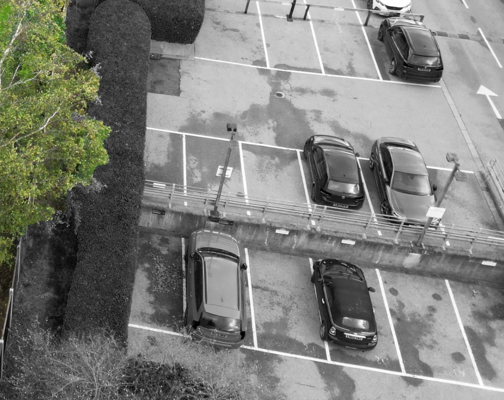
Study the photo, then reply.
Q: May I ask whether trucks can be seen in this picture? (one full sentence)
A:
No, I find no truck anywhere in the image.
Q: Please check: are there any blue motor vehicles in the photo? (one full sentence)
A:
No, there isn't any blue motor vehicle down there.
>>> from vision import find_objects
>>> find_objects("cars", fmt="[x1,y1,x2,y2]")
[304,129,374,209]
[367,130,447,232]
[381,15,450,77]
[189,230,256,347]
[312,251,387,347]
[369,0,413,11]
